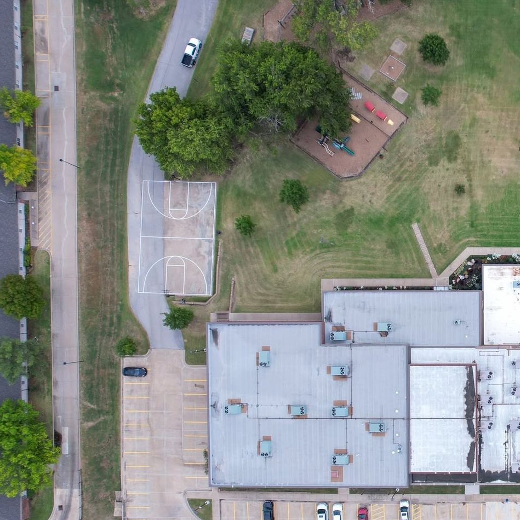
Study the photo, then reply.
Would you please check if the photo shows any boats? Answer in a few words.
No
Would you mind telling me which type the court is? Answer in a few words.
basketball court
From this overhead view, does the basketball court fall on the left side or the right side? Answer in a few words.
left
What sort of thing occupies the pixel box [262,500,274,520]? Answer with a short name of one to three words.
vehicle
